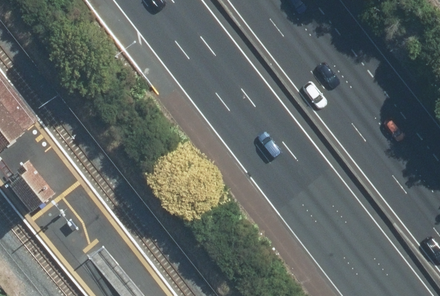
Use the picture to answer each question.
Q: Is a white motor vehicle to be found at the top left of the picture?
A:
No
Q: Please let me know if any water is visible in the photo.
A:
No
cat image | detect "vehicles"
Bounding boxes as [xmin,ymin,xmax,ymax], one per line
[383,118,406,143]
[422,236,440,264]
[314,60,340,91]
[256,130,281,158]
[148,0,165,12]
[302,80,329,110]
